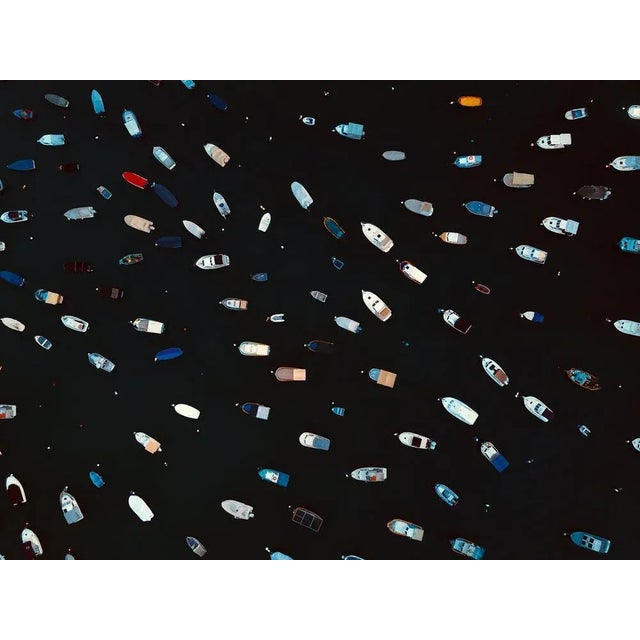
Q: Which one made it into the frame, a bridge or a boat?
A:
boat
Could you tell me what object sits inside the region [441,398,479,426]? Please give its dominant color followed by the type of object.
white boat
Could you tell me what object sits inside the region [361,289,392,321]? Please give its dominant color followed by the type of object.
white boat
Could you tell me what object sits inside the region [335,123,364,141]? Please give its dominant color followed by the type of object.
blue boat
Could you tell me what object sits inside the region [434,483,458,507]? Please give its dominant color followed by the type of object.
blue boat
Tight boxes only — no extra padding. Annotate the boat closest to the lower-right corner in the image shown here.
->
[569,531,610,552]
